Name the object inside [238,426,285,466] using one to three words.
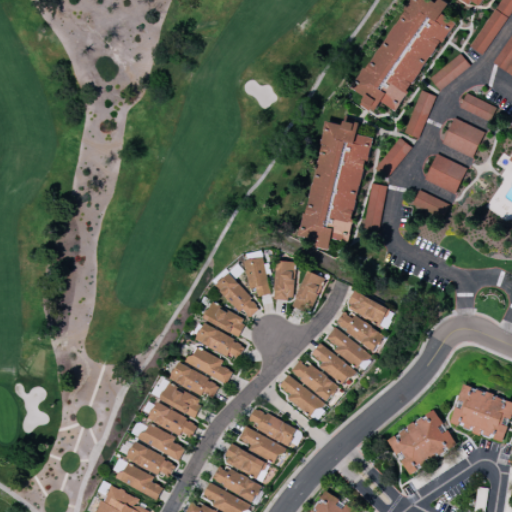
house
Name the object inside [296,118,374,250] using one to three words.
building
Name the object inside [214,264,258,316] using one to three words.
house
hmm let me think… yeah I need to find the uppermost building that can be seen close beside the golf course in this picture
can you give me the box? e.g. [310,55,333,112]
[352,0,455,112]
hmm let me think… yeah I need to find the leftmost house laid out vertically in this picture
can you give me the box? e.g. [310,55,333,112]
[245,250,272,298]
